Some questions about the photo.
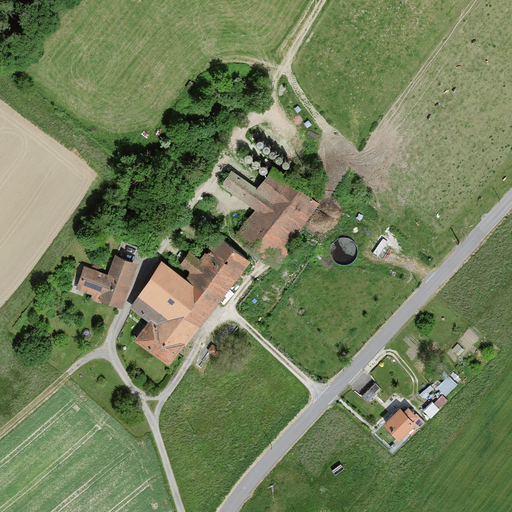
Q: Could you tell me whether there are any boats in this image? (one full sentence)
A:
No, I can see no boat in this picture.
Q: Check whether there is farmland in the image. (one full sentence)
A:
Yes, some farmland is visible.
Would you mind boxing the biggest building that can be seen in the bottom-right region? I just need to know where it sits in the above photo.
[384,407,423,442]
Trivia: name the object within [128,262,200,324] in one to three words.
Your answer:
barn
